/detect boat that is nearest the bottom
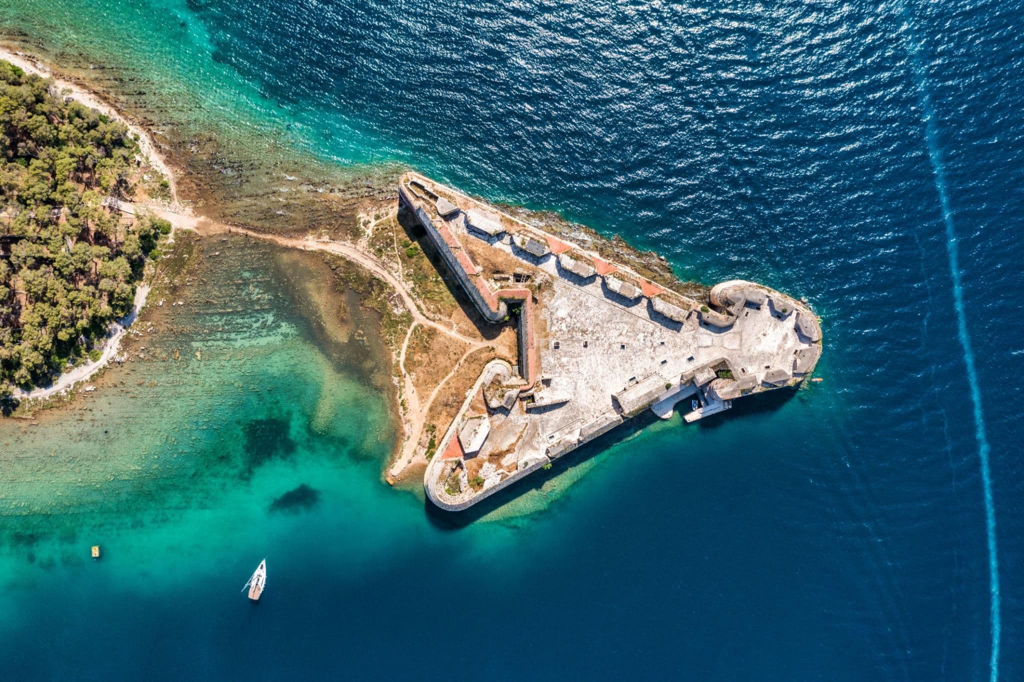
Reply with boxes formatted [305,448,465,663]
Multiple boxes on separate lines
[244,558,267,601]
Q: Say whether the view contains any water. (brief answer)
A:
Yes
